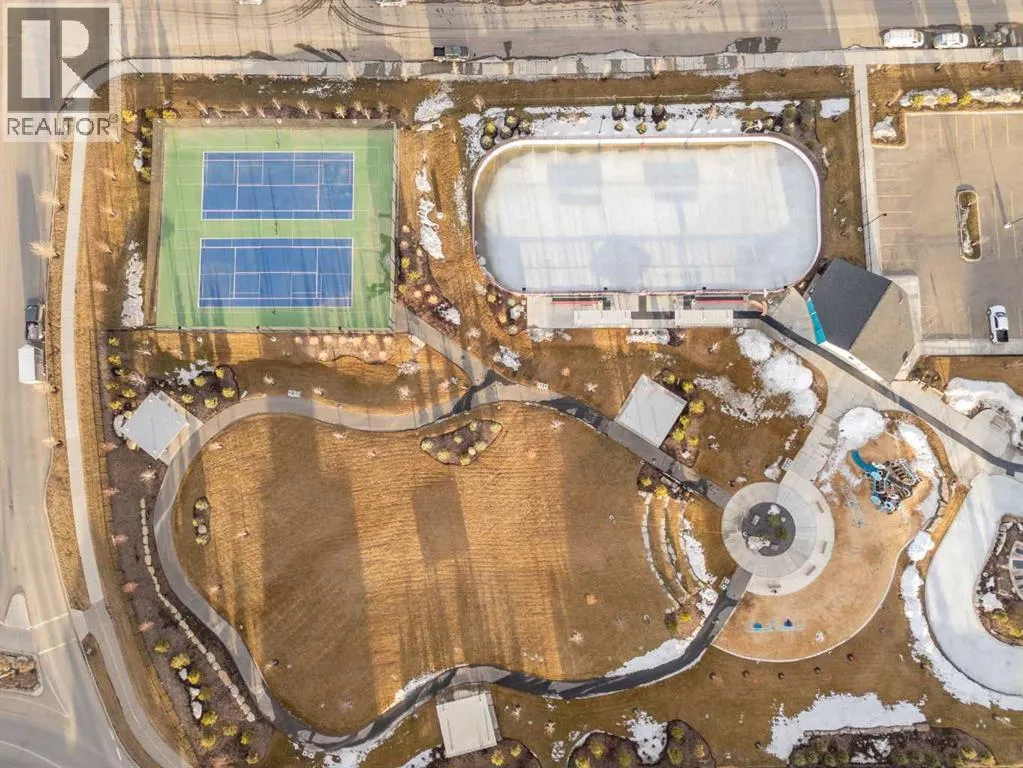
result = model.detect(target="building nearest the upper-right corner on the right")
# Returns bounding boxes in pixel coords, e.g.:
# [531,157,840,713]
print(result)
[805,258,916,382]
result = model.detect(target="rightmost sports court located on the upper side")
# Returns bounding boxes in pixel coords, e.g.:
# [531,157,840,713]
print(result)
[474,134,821,294]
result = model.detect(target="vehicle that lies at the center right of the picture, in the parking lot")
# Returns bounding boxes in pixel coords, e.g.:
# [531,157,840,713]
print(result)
[989,306,1010,344]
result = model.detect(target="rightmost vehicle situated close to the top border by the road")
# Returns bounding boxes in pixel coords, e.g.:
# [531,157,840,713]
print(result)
[974,28,1013,46]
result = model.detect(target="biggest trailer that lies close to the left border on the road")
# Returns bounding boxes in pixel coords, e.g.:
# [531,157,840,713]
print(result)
[13,341,41,384]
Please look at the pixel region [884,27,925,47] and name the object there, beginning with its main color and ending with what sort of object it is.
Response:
white vehicle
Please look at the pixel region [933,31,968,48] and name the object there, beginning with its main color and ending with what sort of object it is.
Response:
white car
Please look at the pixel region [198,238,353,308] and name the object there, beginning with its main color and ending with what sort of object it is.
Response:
blue tennis court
